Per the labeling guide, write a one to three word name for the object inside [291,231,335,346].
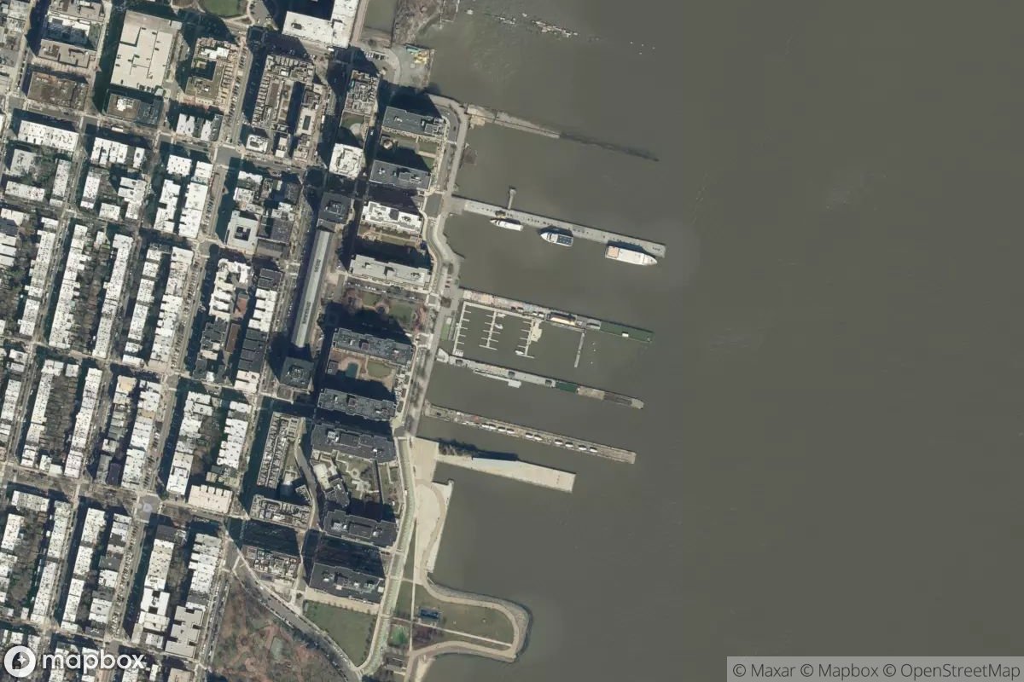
shed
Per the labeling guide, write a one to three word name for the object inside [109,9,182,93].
building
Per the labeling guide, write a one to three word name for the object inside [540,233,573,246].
vessel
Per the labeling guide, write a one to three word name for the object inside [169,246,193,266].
building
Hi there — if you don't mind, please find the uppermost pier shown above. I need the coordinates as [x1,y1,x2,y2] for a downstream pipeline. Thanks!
[467,105,563,138]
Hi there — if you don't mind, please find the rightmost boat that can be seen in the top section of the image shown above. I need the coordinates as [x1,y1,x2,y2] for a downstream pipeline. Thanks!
[605,247,657,264]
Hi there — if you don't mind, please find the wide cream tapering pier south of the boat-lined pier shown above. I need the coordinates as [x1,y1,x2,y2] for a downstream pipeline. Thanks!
[436,455,576,492]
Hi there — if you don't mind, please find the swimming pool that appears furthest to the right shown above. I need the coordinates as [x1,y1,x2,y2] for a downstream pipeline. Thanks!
[345,362,358,377]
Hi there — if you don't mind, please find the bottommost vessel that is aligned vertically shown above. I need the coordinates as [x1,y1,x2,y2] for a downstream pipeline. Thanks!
[531,318,543,342]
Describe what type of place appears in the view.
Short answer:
port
